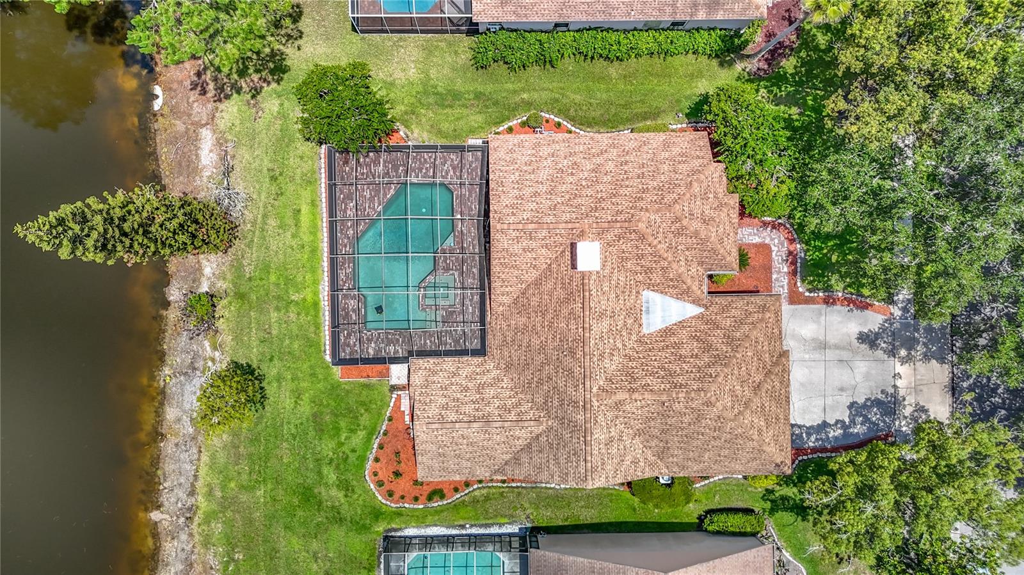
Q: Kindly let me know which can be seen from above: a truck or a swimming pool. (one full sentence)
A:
This aerial view contains a swimming pool.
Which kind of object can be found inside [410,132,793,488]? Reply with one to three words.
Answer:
house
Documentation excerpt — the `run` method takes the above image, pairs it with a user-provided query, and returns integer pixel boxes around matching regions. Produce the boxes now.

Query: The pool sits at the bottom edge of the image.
[405,554,505,575]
